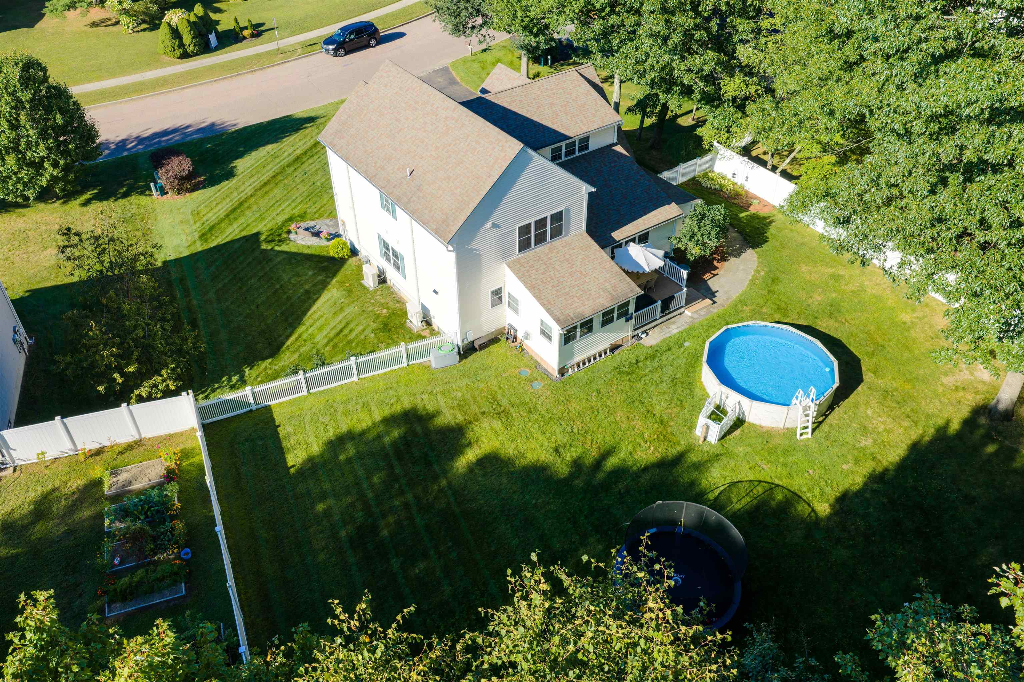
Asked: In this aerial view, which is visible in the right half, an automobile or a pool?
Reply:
pool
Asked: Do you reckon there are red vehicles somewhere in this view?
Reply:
No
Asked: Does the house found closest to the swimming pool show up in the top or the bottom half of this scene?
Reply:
top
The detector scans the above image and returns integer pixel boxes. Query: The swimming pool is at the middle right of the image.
[701,321,839,427]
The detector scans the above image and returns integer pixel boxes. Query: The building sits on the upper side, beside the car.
[316,59,698,382]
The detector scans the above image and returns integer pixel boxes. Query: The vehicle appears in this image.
[317,18,382,57]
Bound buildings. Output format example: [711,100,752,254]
[316,59,698,382]
[0,279,38,429]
